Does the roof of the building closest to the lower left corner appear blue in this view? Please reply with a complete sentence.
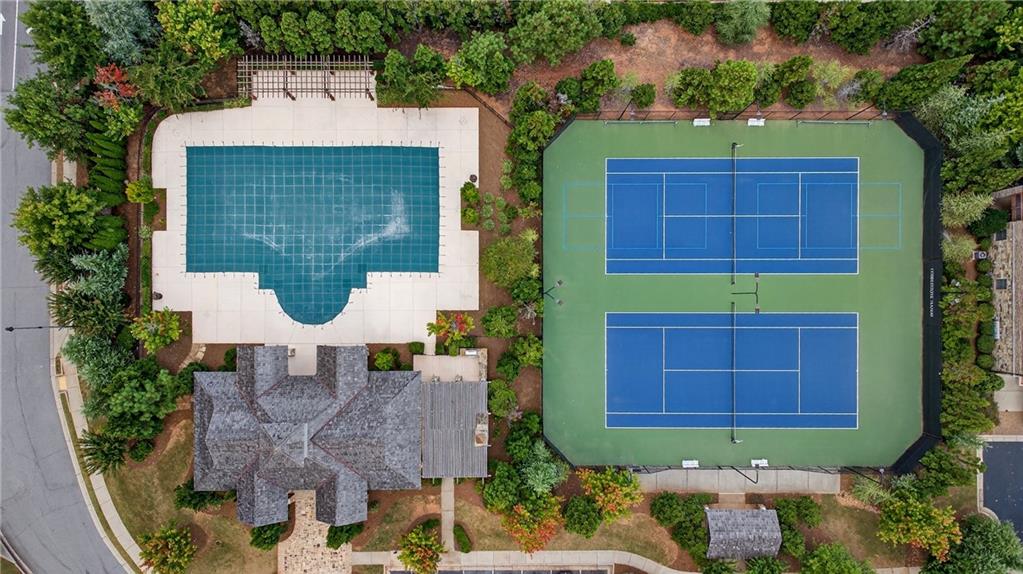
No, the roof of the building closest to the lower left corner is actually gray.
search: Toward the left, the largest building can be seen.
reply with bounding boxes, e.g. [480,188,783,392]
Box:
[193,345,422,527]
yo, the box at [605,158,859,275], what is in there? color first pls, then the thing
blue tennis court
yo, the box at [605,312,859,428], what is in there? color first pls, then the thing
blue tennis court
